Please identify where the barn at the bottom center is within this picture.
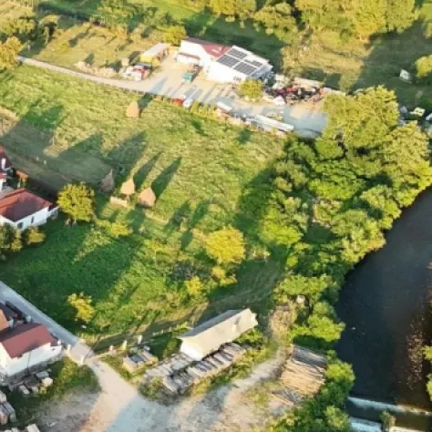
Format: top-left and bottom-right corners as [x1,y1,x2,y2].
[173,307,259,367]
